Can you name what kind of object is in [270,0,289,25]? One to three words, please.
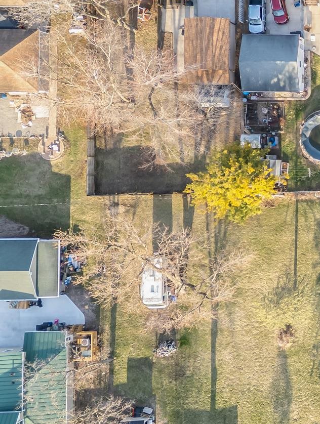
car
